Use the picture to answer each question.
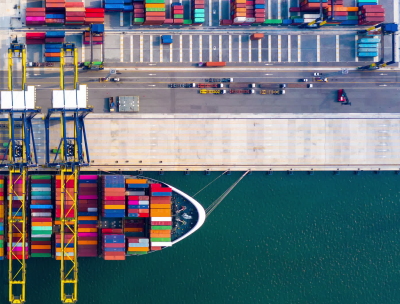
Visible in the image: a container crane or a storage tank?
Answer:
container crane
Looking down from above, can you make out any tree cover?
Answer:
No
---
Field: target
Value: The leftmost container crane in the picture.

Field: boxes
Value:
[0,37,42,304]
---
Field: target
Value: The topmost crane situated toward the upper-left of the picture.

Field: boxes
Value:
[83,22,106,72]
